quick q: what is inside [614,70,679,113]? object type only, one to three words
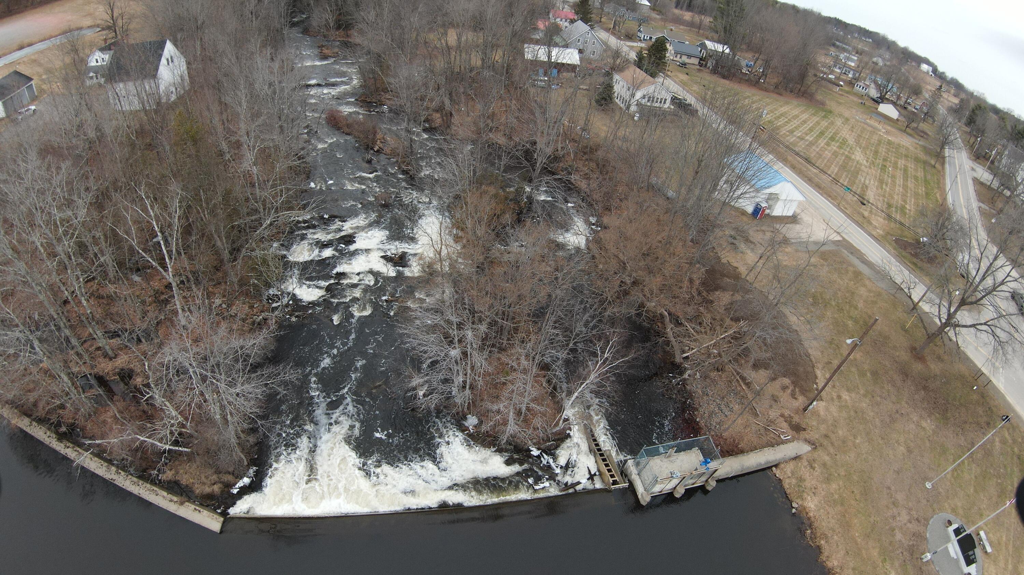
house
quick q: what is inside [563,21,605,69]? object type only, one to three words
house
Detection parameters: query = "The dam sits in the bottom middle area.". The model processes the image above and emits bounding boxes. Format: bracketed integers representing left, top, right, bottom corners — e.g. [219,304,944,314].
[229,489,602,517]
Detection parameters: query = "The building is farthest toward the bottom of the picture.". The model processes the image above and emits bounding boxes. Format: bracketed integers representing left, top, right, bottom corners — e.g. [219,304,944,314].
[635,446,722,499]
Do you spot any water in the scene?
Yes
